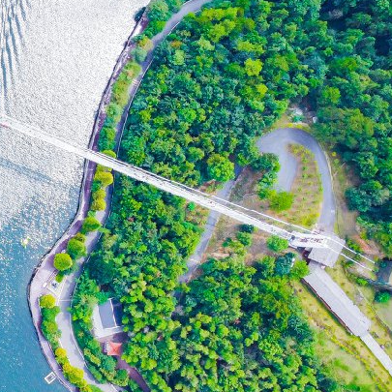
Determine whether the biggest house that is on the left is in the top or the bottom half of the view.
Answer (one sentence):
It is in the bottom half that the biggest house that is on the left appears.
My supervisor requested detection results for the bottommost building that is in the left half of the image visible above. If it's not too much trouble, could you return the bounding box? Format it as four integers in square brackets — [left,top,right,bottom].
[97,298,127,329]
